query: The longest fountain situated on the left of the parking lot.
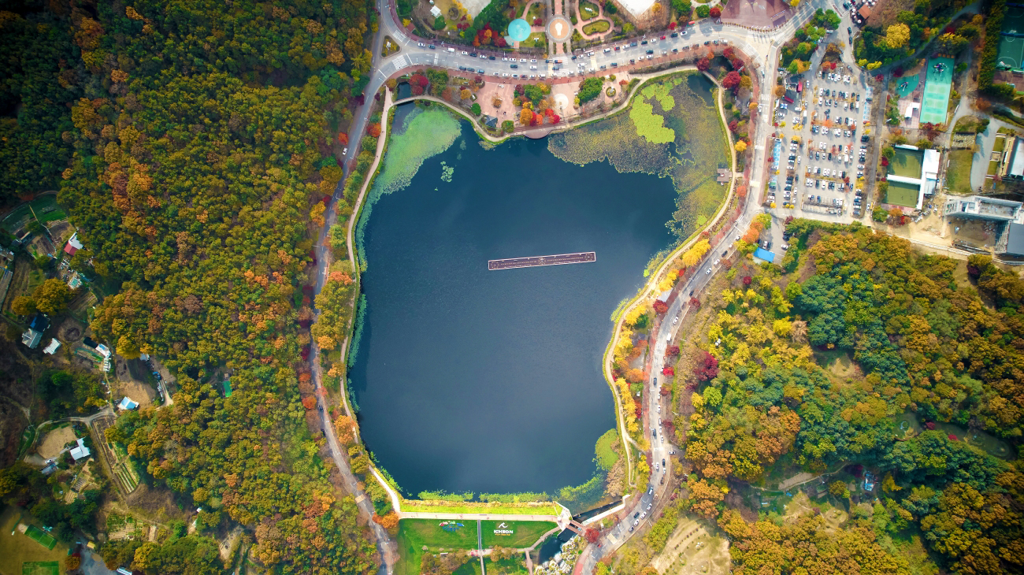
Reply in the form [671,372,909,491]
[488,252,596,270]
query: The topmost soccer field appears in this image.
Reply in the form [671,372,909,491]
[888,149,922,179]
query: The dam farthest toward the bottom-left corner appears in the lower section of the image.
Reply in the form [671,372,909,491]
[392,500,556,575]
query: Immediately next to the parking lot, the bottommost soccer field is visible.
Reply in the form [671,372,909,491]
[882,181,920,207]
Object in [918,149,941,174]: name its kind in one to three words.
building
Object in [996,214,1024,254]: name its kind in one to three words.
building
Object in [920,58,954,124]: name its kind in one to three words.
sports court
